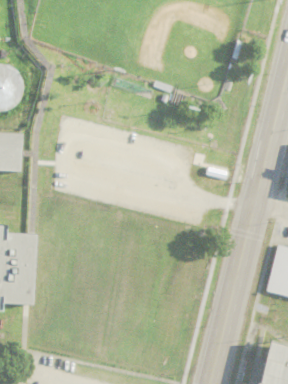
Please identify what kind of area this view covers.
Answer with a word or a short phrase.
sports ground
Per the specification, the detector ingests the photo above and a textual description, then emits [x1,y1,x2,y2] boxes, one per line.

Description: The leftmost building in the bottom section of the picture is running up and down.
[0,225,38,312]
